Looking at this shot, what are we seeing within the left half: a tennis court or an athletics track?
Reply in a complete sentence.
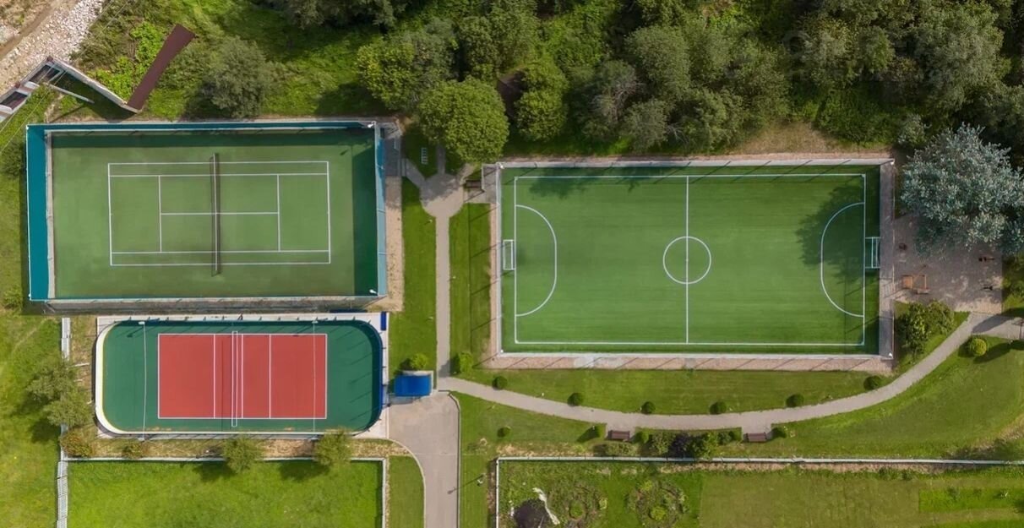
What appears within the left half is a tennis court.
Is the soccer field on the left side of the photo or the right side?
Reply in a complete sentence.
The soccer field appears in the right half of the scene.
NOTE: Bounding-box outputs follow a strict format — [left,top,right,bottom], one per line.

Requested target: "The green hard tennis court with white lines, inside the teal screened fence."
[48,131,385,296]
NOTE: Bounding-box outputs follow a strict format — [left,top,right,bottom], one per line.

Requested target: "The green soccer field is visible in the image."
[499,163,882,357]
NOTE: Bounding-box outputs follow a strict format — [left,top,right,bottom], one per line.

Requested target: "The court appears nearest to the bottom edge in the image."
[103,322,378,432]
